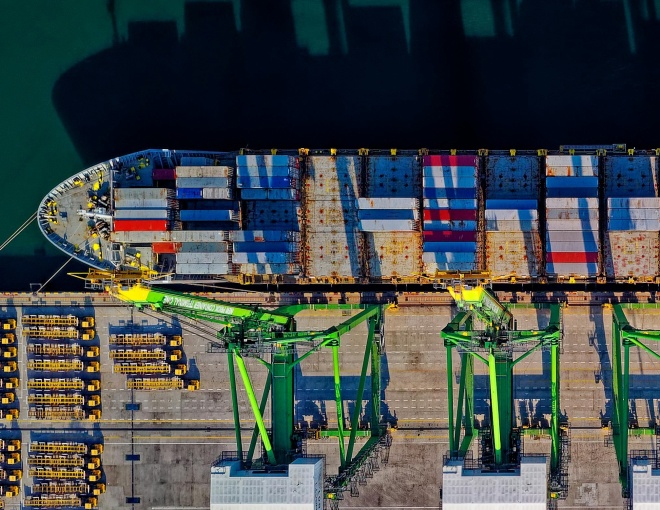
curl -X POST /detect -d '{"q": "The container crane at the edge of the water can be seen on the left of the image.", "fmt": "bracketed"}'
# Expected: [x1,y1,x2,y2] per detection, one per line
[72,268,400,510]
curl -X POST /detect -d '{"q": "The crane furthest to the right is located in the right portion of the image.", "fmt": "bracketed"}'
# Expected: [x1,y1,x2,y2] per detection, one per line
[594,300,660,510]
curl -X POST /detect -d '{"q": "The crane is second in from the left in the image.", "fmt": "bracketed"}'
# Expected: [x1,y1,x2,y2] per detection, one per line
[421,268,574,510]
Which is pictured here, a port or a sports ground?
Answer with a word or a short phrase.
port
